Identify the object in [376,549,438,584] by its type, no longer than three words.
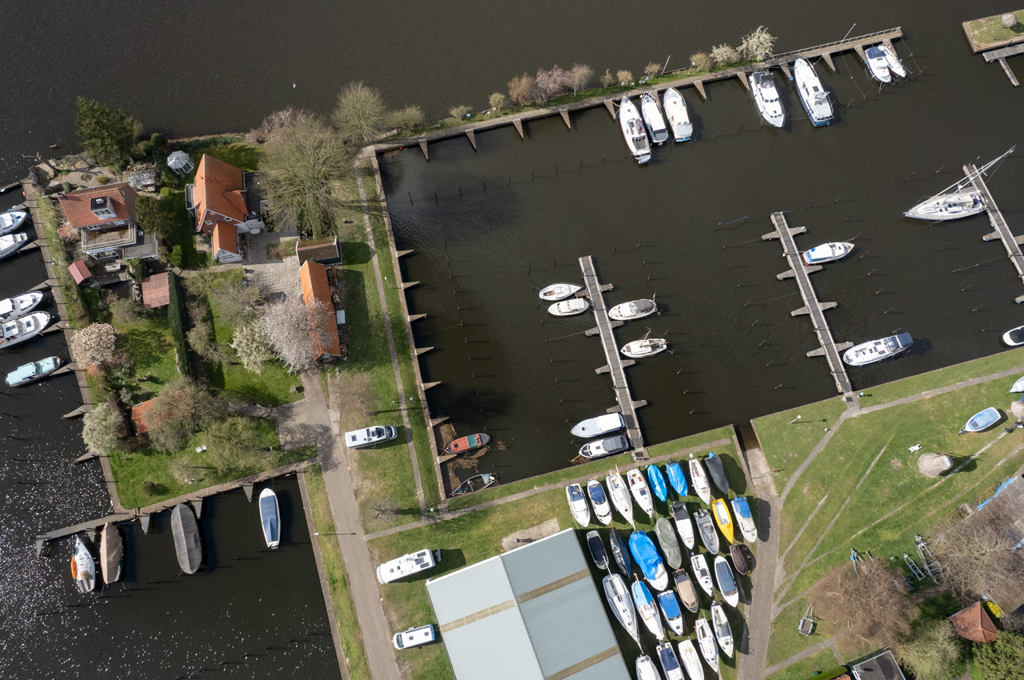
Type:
camper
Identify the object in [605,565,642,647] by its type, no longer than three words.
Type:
boat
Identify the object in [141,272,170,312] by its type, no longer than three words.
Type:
shed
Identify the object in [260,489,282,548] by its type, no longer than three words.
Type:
boat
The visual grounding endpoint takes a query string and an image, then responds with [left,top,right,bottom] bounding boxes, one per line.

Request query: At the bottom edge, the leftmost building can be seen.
[425,526,631,680]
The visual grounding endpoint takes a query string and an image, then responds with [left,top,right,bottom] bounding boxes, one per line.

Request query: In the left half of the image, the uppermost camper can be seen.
[345,425,400,450]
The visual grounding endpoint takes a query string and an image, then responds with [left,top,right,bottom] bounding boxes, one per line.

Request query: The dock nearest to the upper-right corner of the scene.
[980,44,1024,86]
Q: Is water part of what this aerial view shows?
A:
Yes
